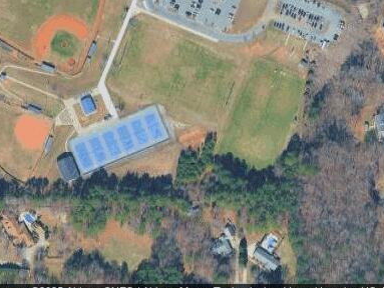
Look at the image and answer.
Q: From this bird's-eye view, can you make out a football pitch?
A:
Yes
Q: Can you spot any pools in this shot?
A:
Yes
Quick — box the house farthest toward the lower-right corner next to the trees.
[253,247,282,272]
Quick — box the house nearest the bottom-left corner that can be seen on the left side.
[0,213,33,249]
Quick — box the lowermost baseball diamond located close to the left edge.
[0,99,55,183]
